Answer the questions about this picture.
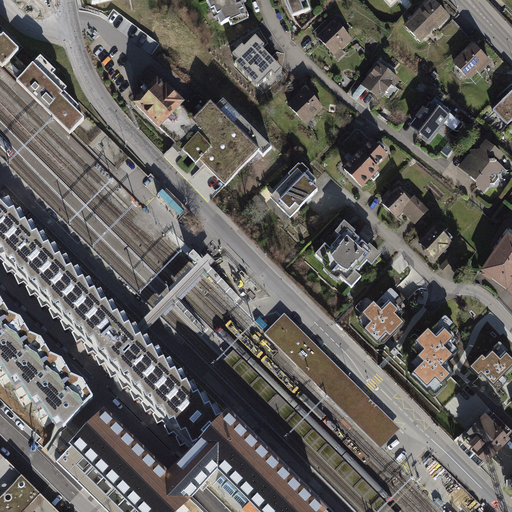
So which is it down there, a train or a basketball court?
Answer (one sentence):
Of the two, only a train appears.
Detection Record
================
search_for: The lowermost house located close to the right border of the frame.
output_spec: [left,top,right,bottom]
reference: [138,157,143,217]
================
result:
[452,412,512,468]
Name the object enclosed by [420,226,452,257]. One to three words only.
house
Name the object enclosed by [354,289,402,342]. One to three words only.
building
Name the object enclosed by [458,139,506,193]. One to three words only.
house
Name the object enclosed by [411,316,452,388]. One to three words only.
building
